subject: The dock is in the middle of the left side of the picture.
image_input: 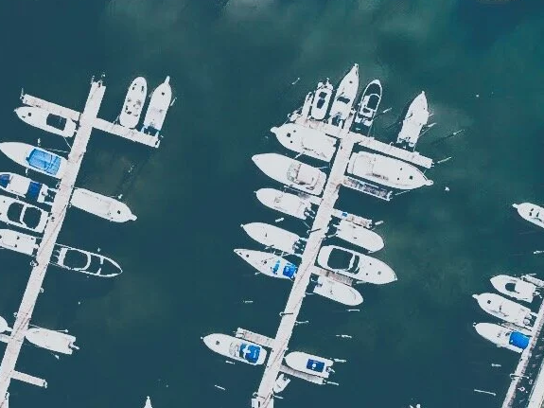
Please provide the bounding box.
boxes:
[0,81,164,408]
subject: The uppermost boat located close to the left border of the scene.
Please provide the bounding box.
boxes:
[14,94,78,144]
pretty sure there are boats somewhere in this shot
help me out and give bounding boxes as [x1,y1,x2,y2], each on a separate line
[314,244,397,285]
[474,294,539,337]
[472,321,532,357]
[254,188,319,226]
[14,94,78,144]
[270,124,340,167]
[43,240,123,277]
[326,216,384,251]
[142,75,173,138]
[397,88,428,149]
[0,142,69,184]
[346,79,388,138]
[252,153,329,199]
[0,228,40,259]
[201,334,269,374]
[514,203,544,231]
[0,196,51,237]
[69,187,137,222]
[24,328,81,357]
[282,352,339,383]
[305,274,364,308]
[342,151,440,190]
[324,64,359,137]
[120,76,149,129]
[233,248,300,282]
[239,222,308,258]
[488,276,543,309]
[275,371,290,394]
[308,80,333,126]
[0,171,56,208]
